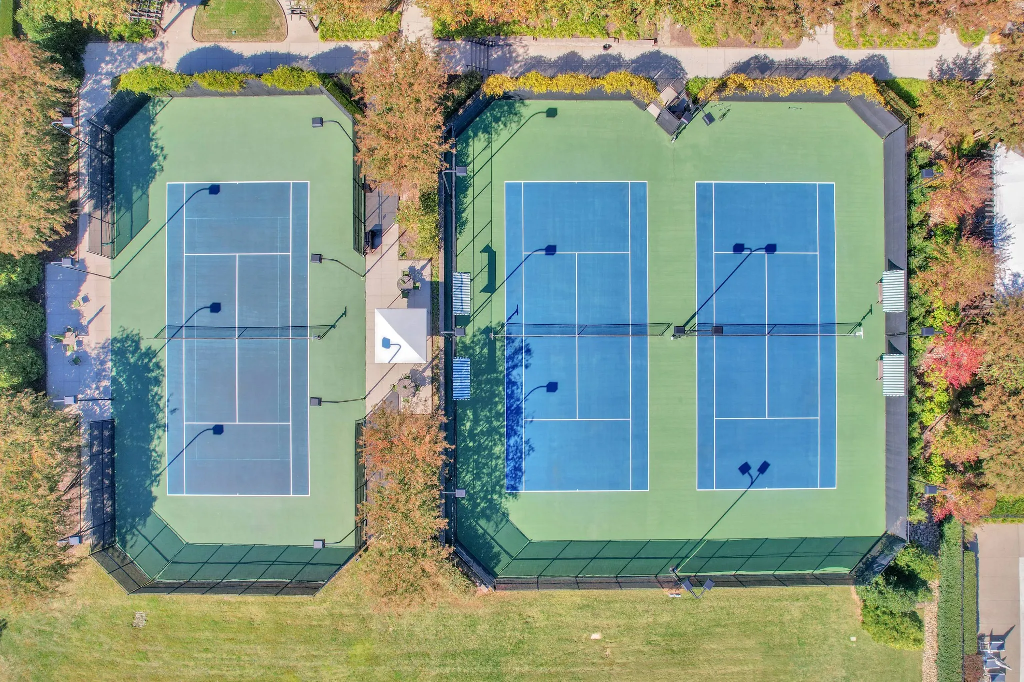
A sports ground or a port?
sports ground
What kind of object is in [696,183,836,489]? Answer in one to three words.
tennis court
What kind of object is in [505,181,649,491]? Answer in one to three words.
tennis court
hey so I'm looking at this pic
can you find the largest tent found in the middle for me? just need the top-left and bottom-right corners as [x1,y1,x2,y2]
[375,308,431,363]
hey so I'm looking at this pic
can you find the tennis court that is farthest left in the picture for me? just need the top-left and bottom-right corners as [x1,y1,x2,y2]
[110,95,366,581]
